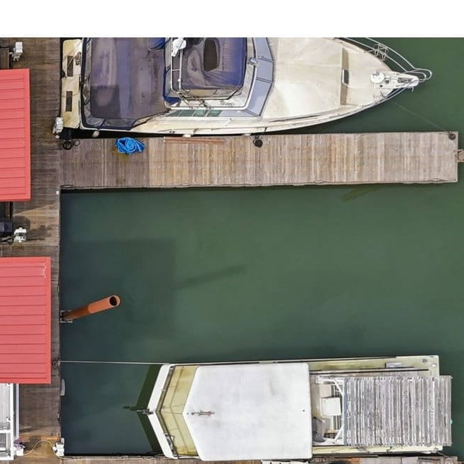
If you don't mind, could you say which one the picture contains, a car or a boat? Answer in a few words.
boat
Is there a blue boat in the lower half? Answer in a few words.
No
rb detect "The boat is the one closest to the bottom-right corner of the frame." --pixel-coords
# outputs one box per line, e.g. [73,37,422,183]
[126,356,452,462]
